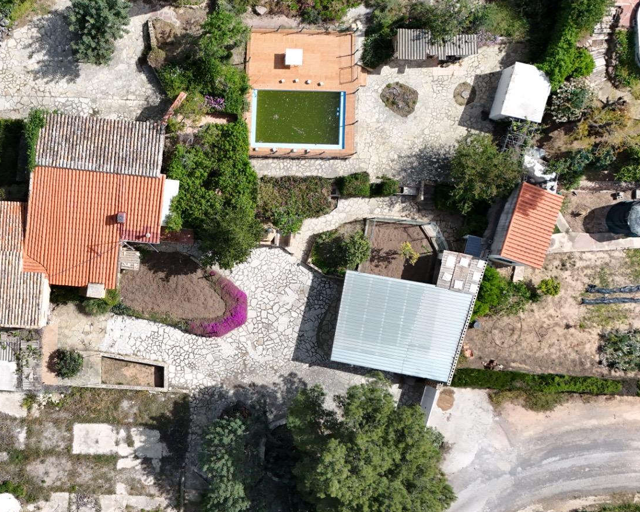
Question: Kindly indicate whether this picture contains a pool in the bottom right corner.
No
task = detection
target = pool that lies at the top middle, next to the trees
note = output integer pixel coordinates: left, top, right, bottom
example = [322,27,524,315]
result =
[244,26,366,159]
